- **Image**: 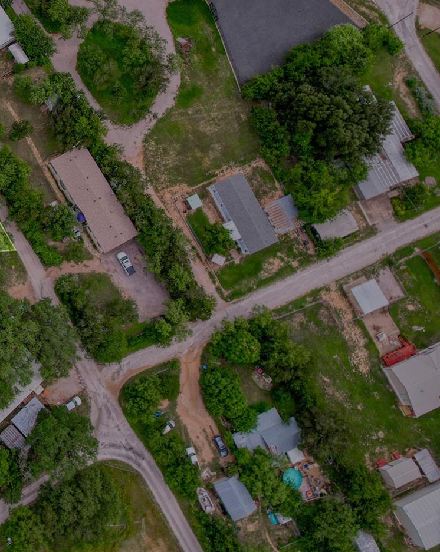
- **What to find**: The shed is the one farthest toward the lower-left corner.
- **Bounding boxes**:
[0,425,25,451]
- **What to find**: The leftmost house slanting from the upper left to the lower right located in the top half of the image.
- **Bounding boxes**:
[48,149,137,255]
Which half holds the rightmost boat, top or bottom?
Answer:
bottom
